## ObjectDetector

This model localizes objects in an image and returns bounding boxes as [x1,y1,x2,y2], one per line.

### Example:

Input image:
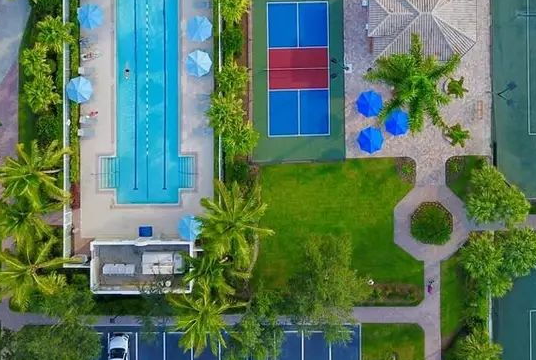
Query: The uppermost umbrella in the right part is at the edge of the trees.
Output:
[356,91,381,116]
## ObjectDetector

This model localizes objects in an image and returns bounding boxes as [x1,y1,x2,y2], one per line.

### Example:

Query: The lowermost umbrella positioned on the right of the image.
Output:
[357,127,384,153]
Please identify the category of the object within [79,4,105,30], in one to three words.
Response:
umbrella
